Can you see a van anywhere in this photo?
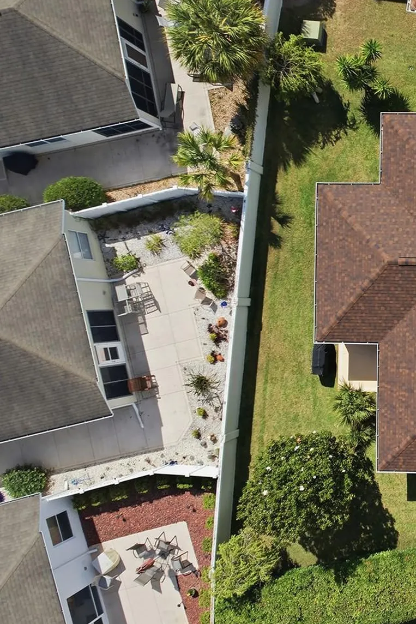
No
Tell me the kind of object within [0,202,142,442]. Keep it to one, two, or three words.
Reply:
house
